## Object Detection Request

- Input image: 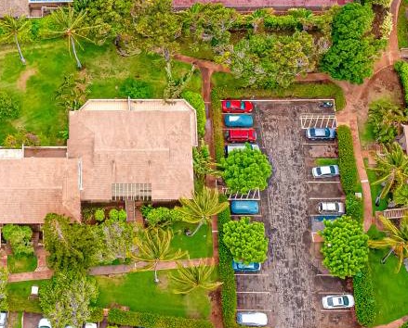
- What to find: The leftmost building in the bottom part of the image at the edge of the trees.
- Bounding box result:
[0,146,82,250]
